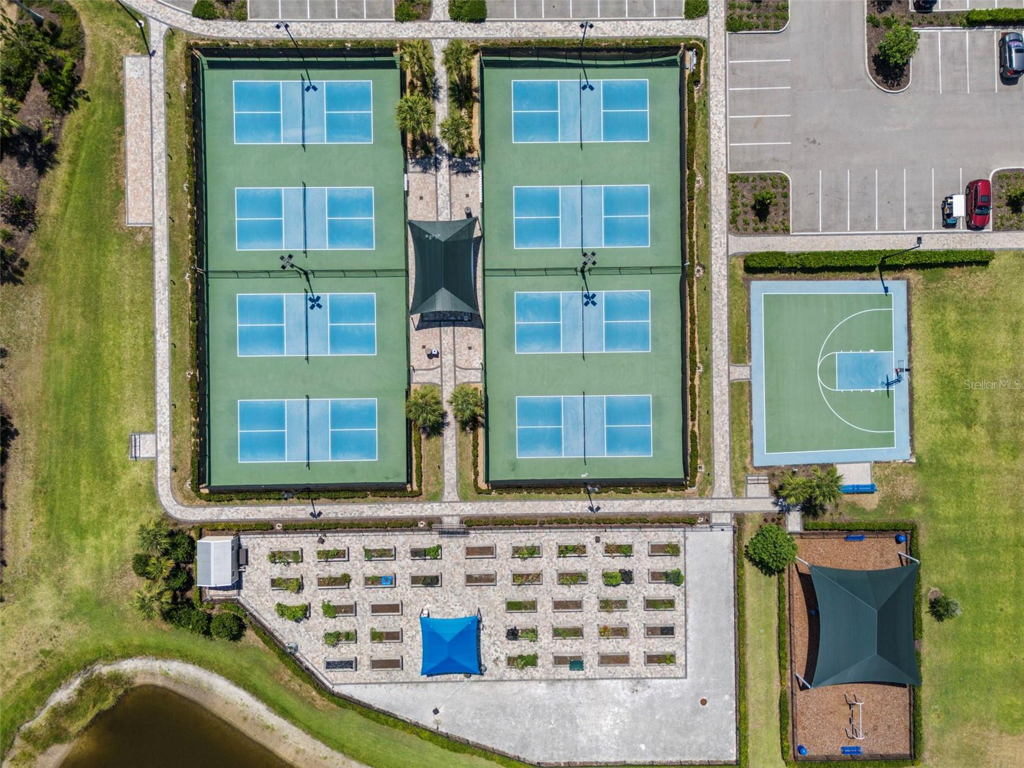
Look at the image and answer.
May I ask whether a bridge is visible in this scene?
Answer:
No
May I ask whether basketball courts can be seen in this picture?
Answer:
Yes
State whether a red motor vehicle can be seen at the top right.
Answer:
Yes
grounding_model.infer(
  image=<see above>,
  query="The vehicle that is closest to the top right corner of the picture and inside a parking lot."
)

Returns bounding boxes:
[1000,28,1024,79]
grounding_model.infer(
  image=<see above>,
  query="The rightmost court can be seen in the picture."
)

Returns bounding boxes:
[762,293,896,454]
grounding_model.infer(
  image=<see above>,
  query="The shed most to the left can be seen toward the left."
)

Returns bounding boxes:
[197,536,240,589]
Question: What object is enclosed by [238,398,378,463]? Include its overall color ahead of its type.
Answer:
blue sports court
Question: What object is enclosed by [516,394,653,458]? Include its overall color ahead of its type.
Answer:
blue sports court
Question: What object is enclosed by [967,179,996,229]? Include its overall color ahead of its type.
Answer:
red car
